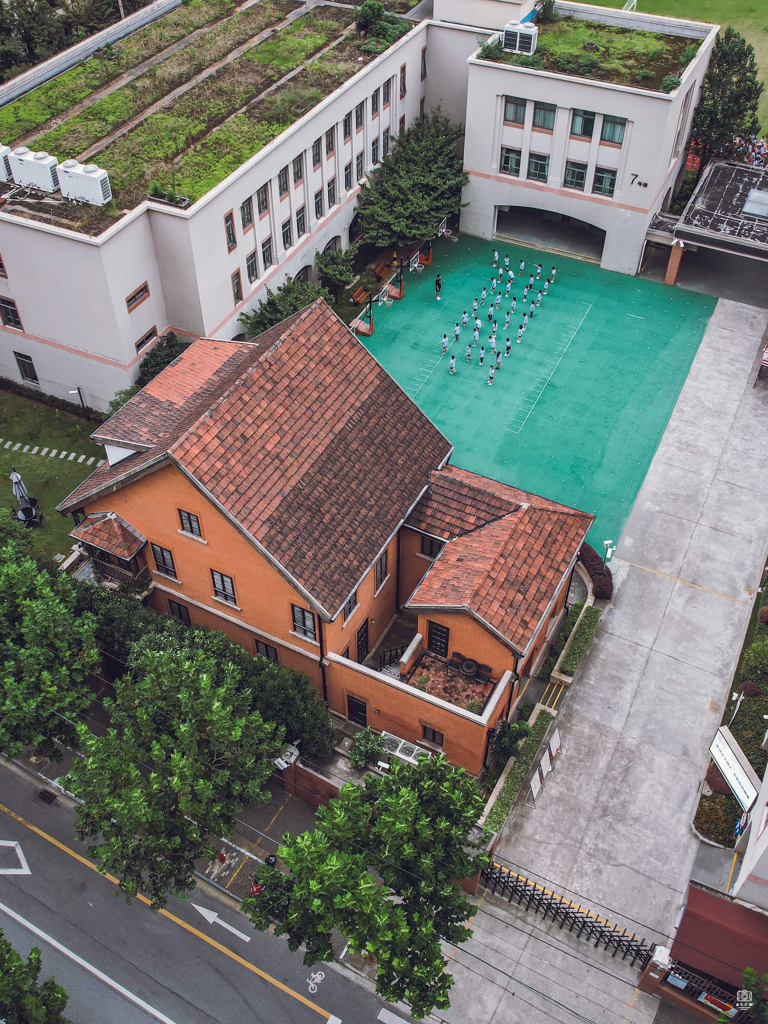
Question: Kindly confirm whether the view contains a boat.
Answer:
No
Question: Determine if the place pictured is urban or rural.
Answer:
urban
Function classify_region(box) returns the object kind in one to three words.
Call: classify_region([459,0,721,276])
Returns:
building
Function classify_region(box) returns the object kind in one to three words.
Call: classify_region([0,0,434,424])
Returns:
building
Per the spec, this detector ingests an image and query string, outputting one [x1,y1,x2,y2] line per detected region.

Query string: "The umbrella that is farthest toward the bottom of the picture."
[10,465,33,508]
